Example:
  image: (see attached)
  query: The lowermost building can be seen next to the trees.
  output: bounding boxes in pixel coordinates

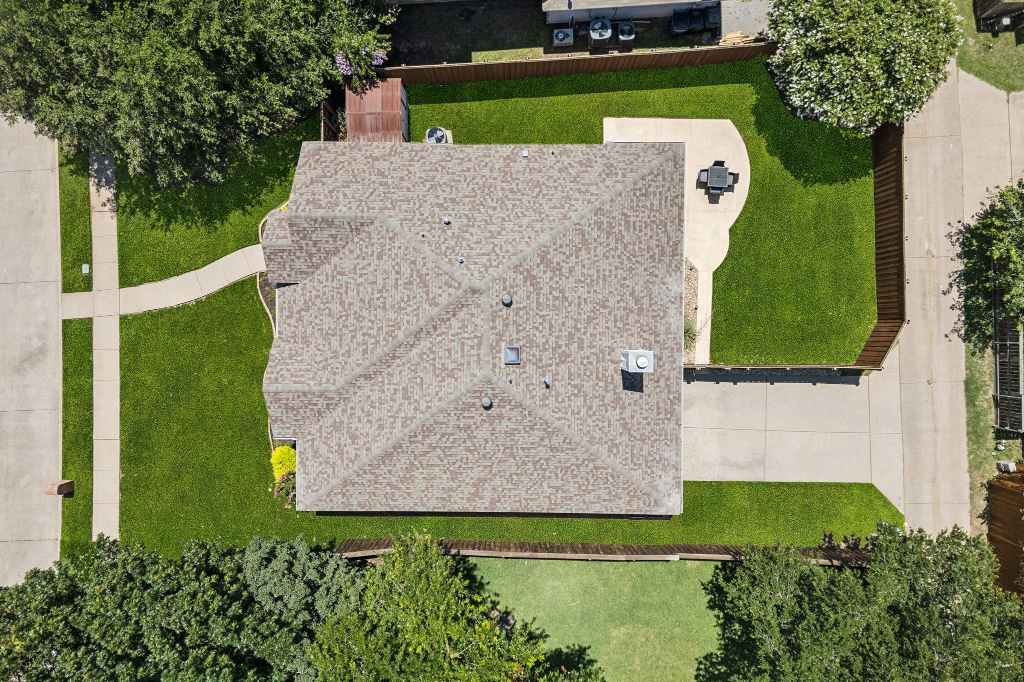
[262,139,687,516]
